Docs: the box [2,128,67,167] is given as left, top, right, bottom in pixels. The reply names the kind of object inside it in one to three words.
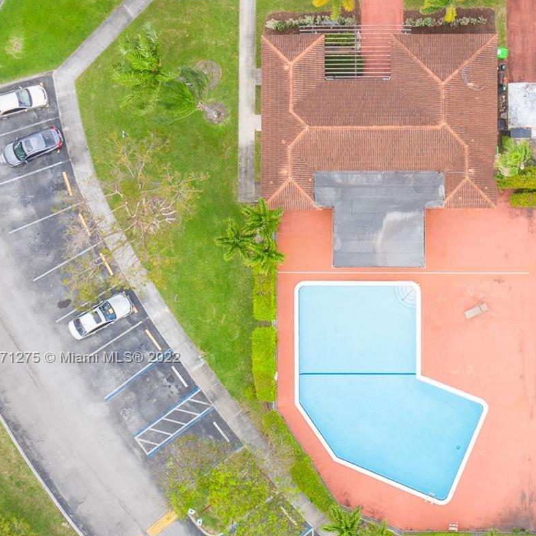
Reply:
car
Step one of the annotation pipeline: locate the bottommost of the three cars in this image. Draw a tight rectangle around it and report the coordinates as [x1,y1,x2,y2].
[65,290,137,341]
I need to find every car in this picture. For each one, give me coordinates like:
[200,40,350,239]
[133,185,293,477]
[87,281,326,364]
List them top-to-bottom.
[0,83,51,119]
[2,128,67,167]
[65,290,137,341]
